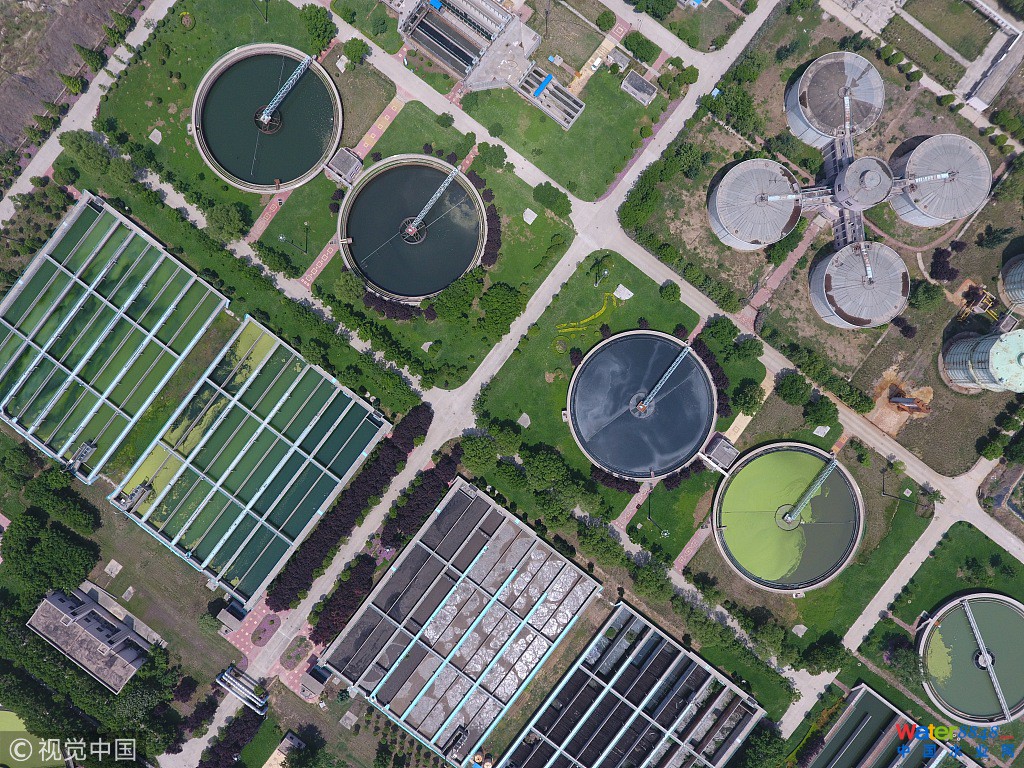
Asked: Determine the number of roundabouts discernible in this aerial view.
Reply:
0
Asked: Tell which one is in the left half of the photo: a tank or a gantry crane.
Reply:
tank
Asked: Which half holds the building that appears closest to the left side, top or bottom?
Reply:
bottom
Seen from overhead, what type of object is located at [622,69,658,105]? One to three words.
building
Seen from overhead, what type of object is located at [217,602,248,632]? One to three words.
building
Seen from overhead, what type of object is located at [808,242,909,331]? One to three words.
storage tank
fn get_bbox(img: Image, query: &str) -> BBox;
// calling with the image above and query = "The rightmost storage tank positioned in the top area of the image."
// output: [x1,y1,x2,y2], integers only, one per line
[886,134,991,230]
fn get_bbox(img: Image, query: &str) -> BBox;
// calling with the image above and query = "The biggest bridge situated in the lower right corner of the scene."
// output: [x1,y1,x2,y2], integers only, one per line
[958,598,1012,723]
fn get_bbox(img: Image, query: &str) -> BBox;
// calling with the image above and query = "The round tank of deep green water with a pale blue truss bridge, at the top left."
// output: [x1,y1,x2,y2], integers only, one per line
[193,43,345,195]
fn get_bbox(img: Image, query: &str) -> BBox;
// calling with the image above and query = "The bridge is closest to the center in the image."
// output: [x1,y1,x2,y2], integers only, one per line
[634,343,693,412]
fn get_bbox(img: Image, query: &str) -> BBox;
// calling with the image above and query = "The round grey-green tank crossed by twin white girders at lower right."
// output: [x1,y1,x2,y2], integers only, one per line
[911,590,1024,728]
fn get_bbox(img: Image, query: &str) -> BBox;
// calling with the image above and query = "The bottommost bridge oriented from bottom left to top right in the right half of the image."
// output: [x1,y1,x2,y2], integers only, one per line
[777,454,839,522]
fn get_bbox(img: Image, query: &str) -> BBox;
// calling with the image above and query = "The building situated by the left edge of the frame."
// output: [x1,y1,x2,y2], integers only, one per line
[24,576,169,695]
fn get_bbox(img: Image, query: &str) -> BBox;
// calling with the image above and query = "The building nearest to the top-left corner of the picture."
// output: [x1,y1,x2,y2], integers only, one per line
[330,148,364,183]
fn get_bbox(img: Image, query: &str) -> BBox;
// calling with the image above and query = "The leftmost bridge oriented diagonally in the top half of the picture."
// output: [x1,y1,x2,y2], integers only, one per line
[262,54,314,128]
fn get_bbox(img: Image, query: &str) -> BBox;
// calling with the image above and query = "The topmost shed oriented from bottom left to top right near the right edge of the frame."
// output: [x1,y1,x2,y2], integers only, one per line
[966,33,1024,106]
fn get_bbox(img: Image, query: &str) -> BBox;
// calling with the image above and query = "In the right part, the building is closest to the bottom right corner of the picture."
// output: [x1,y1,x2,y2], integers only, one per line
[706,439,740,468]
